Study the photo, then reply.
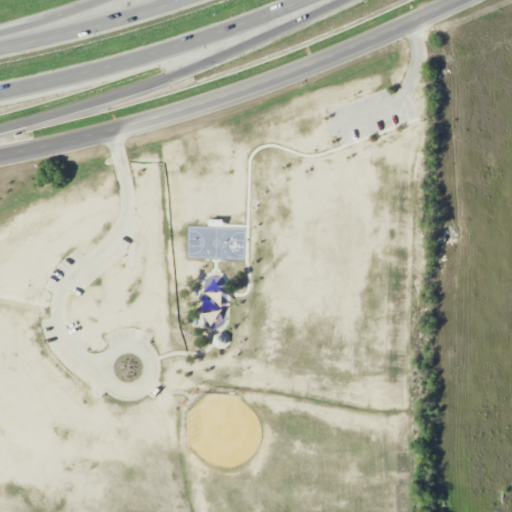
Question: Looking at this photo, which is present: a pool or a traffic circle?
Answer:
traffic circle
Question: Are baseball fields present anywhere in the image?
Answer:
Yes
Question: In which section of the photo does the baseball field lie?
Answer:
bottom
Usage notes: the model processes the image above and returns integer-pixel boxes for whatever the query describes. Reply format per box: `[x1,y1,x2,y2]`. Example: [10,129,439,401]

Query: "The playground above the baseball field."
[198,270,230,335]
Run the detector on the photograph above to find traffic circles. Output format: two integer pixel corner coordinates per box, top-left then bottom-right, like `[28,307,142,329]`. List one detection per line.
[96,328,160,400]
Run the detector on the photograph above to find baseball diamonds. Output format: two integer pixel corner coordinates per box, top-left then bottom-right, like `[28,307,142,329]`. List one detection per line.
[183,390,262,468]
